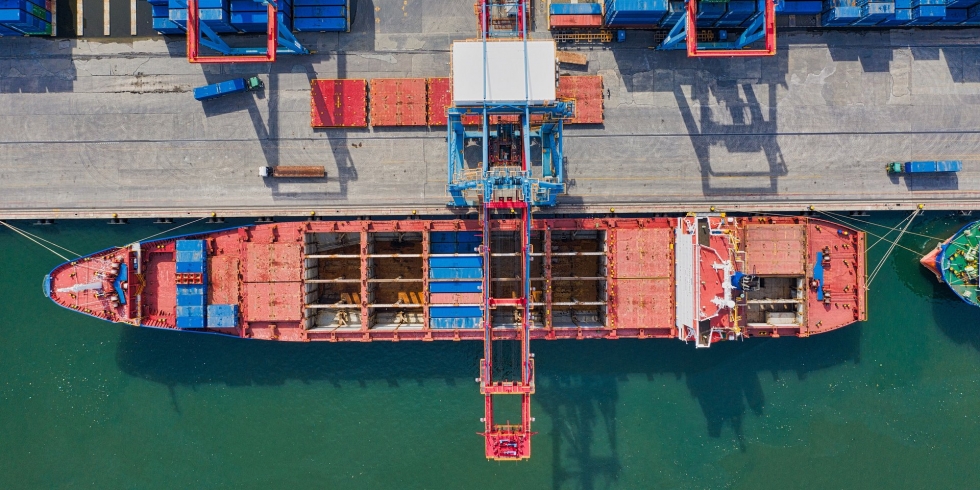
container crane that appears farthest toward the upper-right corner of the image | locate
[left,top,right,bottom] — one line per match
[646,0,778,58]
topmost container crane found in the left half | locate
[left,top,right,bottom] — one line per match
[187,0,319,65]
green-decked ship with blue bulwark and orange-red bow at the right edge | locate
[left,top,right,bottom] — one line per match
[922,221,980,304]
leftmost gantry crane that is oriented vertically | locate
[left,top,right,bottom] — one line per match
[444,0,576,465]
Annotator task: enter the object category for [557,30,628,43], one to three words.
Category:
vehicle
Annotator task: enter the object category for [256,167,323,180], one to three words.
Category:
vehicle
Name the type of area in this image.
port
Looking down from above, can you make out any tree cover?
No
